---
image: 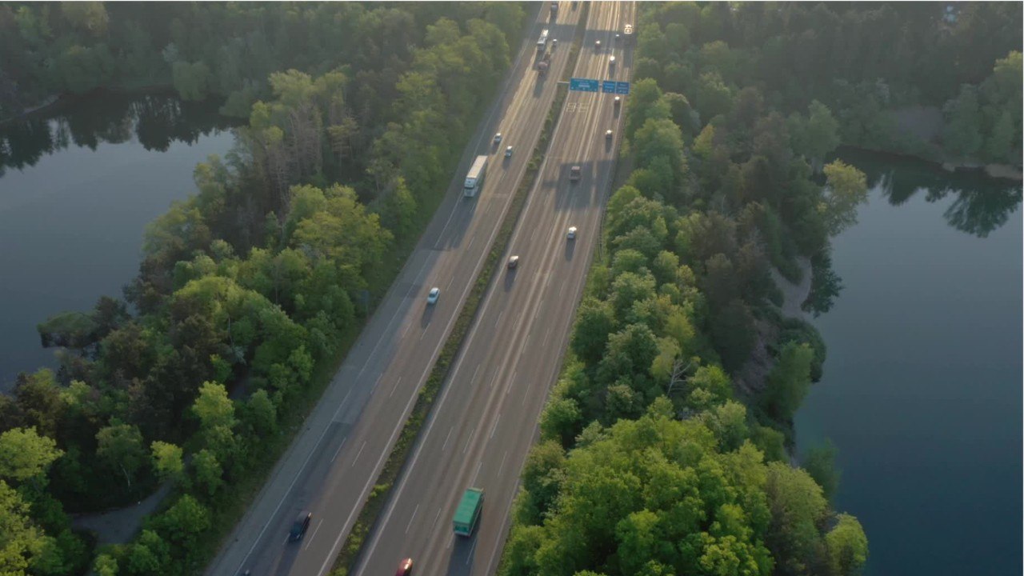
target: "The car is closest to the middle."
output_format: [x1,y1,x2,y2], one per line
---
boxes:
[507,256,519,269]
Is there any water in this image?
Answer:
Yes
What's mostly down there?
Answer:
trees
